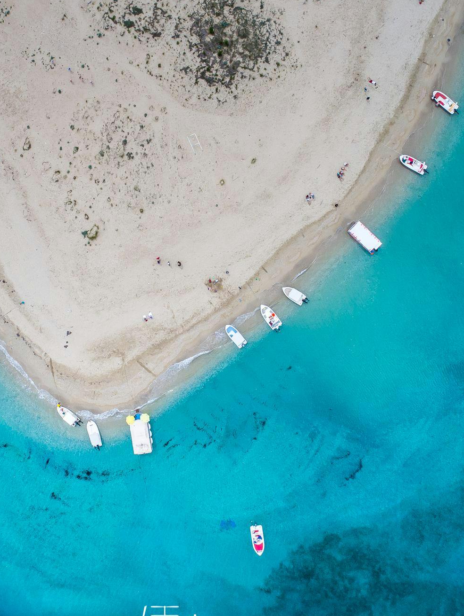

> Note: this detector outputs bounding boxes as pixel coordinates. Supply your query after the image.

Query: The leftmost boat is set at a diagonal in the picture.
[59,407,84,429]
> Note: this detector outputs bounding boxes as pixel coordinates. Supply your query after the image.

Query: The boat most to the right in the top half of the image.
[432,92,458,116]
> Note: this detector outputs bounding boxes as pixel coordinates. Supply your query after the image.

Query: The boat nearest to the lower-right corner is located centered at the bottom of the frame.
[251,522,264,556]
